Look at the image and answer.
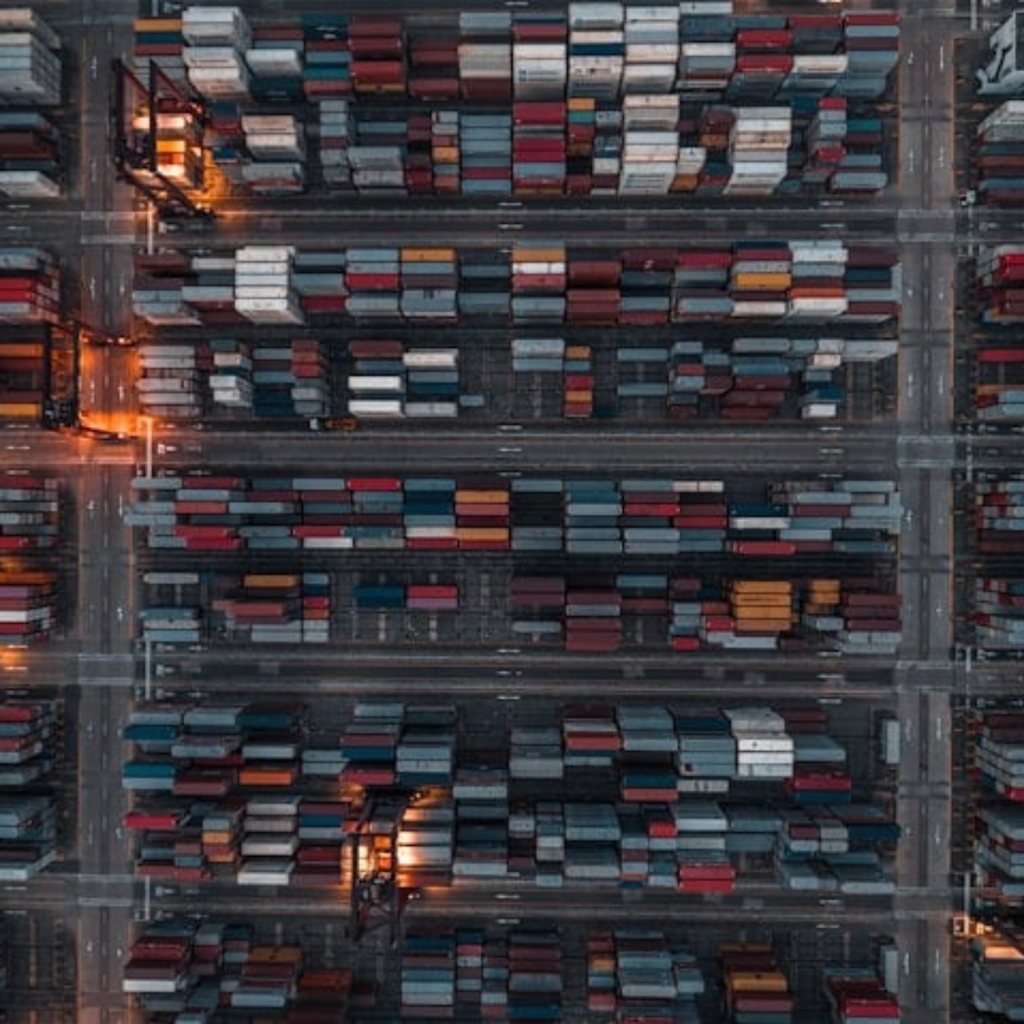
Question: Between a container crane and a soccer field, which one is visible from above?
container crane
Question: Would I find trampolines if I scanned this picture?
No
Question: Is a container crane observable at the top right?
No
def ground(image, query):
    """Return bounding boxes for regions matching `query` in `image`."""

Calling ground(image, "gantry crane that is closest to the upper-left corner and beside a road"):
[113,53,205,213]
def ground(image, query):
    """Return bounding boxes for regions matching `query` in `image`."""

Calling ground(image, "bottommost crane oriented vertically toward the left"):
[346,782,418,937]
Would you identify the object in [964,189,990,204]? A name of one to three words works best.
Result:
vehicle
